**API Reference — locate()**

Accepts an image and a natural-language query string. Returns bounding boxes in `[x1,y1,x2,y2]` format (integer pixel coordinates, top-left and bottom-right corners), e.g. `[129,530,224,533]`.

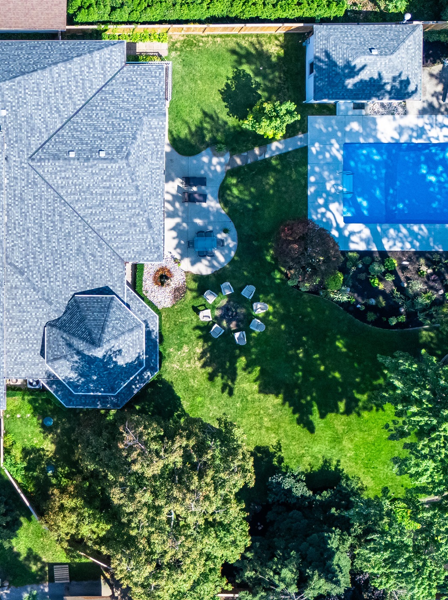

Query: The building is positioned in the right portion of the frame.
[299,23,423,105]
